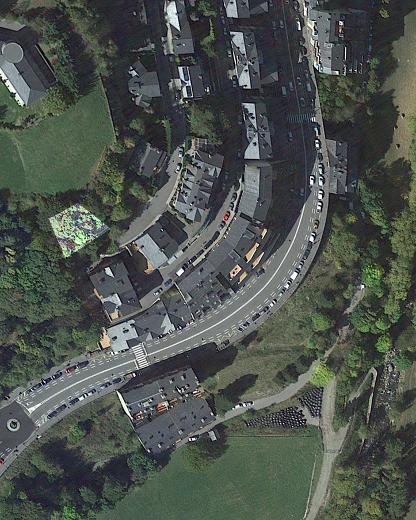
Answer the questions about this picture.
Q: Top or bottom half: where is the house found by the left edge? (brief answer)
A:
top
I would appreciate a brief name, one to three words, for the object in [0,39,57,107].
house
